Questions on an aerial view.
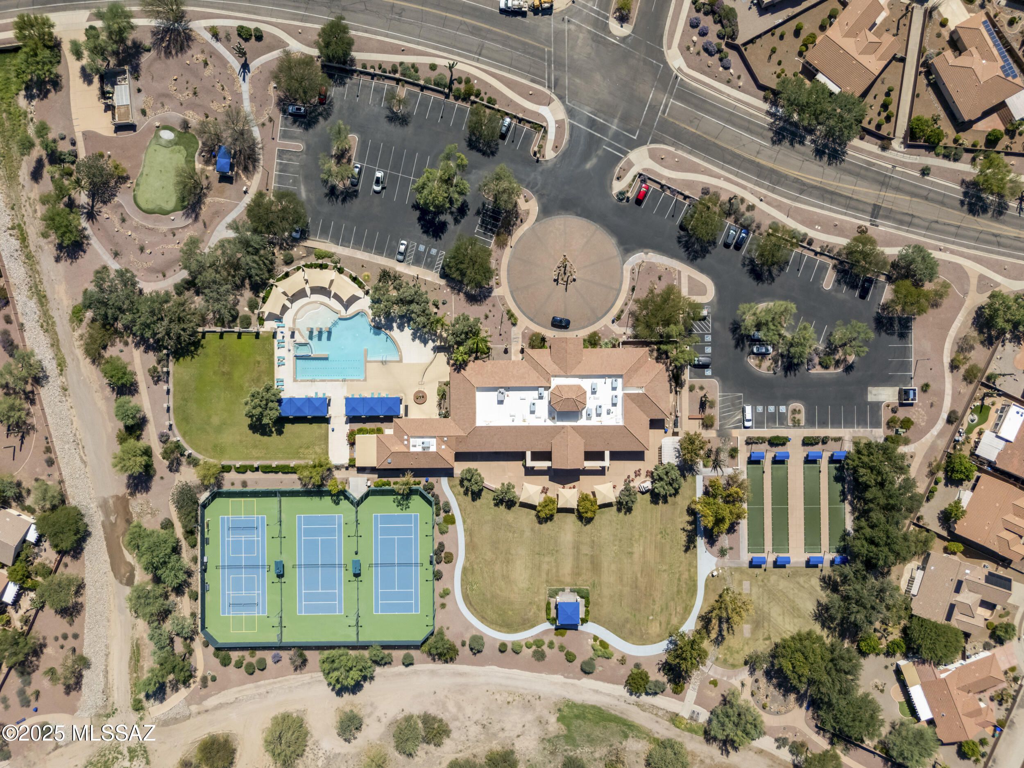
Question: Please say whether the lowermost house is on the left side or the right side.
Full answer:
It is on the right.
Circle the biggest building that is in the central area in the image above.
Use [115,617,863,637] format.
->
[356,337,670,469]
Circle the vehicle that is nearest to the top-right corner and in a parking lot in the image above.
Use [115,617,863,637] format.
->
[858,278,871,299]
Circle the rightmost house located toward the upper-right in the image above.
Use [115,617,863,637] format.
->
[926,11,1024,129]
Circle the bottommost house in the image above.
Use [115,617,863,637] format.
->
[894,649,1006,743]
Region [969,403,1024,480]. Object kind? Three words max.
house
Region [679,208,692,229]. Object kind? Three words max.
vehicle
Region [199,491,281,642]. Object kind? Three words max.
tennis court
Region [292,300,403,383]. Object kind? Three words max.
swimming pool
